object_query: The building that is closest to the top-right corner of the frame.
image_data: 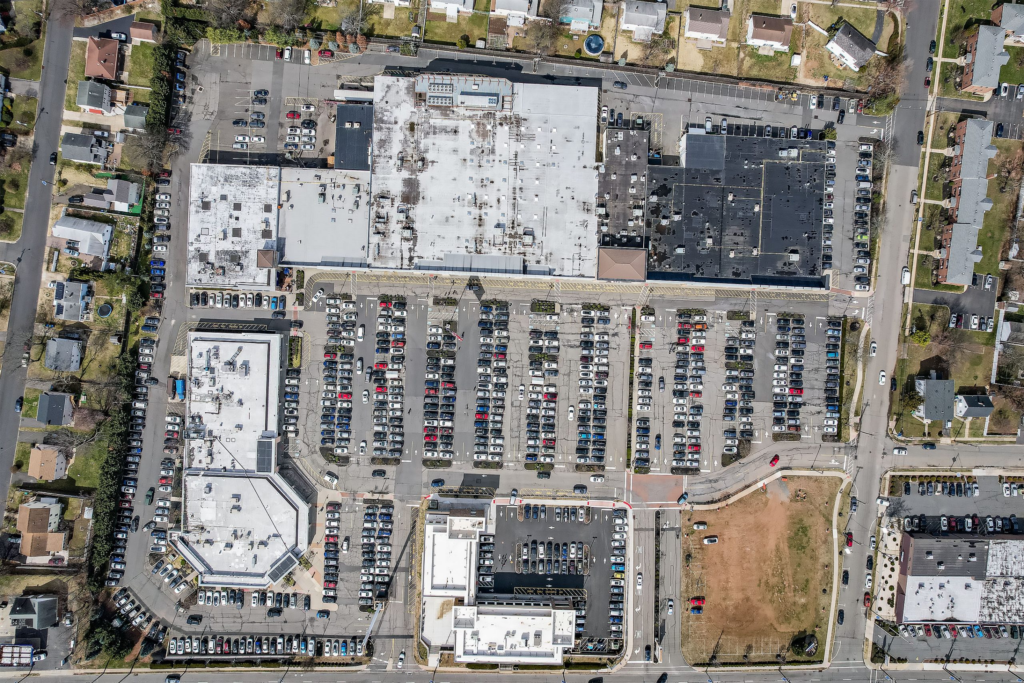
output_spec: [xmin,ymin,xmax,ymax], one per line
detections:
[983,1,1024,42]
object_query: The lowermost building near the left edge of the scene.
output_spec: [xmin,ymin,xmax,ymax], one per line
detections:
[15,589,69,633]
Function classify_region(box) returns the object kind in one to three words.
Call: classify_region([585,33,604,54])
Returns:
swimming pool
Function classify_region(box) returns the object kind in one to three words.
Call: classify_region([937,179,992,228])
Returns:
building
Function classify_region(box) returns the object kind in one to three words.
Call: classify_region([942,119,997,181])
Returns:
building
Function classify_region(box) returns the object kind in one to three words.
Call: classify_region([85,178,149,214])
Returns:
house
